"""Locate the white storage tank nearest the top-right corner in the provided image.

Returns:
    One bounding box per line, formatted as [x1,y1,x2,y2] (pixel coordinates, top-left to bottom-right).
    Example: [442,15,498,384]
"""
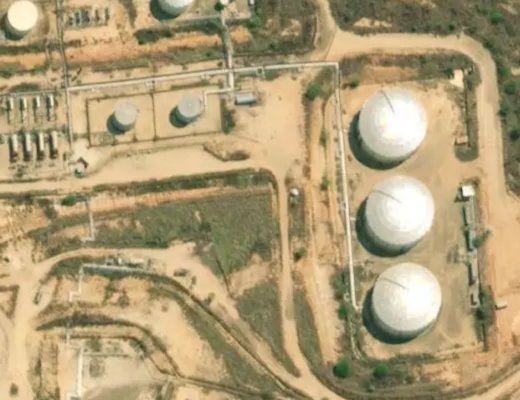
[354,89,428,165]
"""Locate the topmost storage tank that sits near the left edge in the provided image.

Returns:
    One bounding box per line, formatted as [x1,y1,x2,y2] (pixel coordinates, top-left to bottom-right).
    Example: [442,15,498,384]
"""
[5,0,38,37]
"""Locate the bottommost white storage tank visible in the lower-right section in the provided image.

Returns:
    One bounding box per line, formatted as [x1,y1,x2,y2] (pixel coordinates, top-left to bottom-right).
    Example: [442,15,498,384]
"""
[367,262,442,337]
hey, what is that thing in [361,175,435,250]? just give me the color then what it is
white storage tank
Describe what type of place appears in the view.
industrial area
